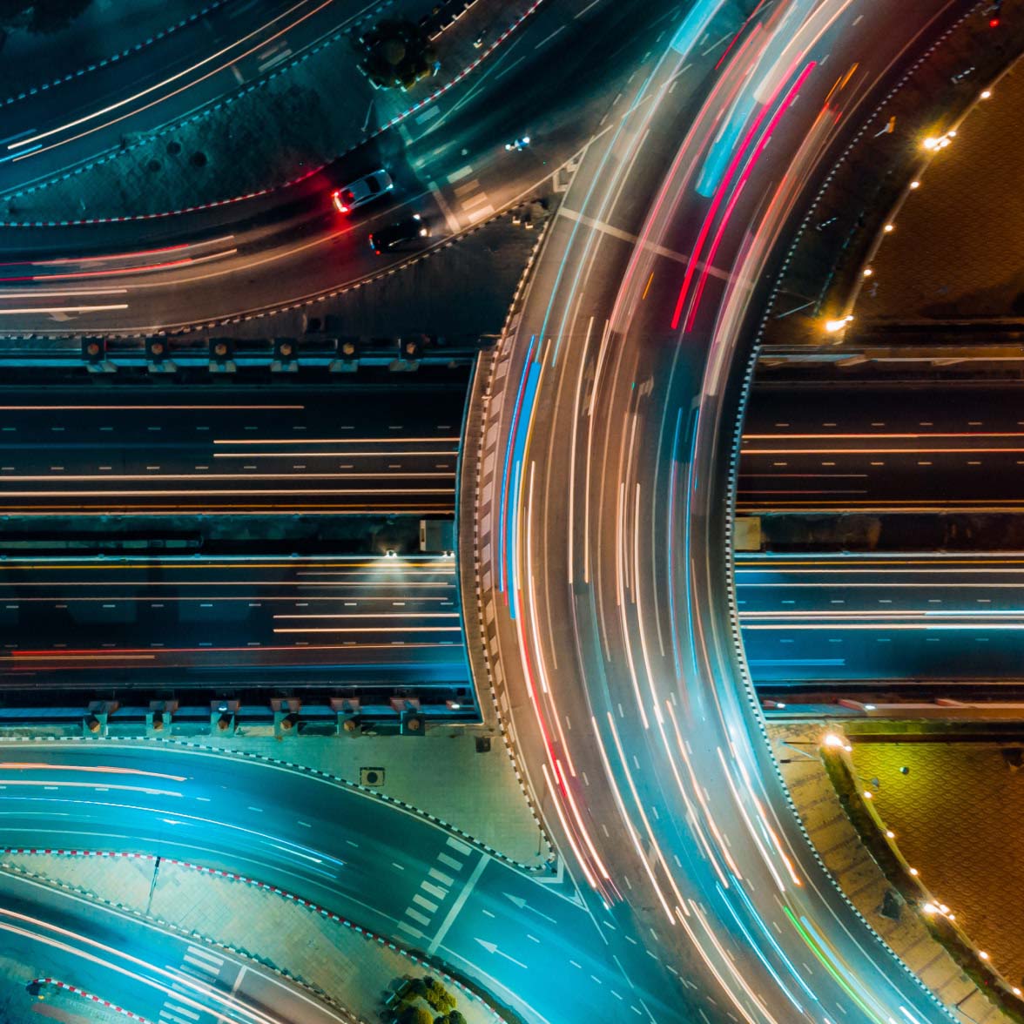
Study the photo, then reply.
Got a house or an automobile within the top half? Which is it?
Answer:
automobile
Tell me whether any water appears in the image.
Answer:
No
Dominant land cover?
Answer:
paved ground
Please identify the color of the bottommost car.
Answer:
black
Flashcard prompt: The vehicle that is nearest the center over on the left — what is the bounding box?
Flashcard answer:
[364,211,428,252]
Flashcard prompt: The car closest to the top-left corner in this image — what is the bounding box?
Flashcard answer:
[328,166,393,210]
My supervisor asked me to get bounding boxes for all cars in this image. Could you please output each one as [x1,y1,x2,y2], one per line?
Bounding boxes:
[364,211,428,252]
[328,166,393,210]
